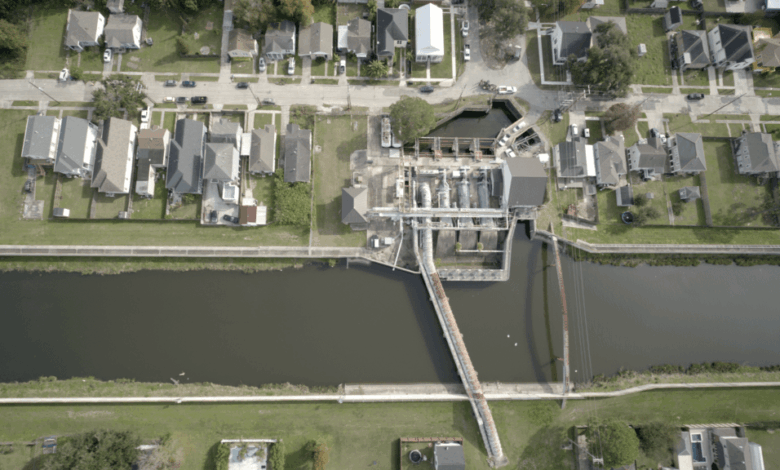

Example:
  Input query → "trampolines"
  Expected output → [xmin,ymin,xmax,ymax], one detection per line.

[622,211,635,223]
[409,451,422,465]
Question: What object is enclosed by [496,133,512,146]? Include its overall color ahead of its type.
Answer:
white vehicle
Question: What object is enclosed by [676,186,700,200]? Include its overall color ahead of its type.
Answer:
gray gazebo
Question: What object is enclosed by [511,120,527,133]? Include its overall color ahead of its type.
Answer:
white vehicle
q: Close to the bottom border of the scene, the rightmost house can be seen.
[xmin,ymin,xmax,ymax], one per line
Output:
[715,434,763,470]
